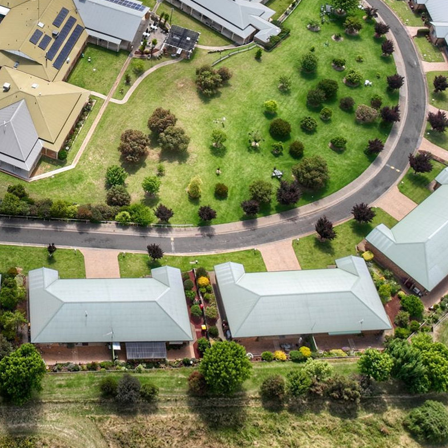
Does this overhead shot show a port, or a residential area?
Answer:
residential area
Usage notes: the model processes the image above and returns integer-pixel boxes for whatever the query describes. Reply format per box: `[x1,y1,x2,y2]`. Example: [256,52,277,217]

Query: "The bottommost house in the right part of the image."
[210,255,392,342]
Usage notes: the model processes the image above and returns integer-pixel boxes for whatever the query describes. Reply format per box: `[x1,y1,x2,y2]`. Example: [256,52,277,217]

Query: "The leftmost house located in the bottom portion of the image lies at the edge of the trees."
[27,265,193,363]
